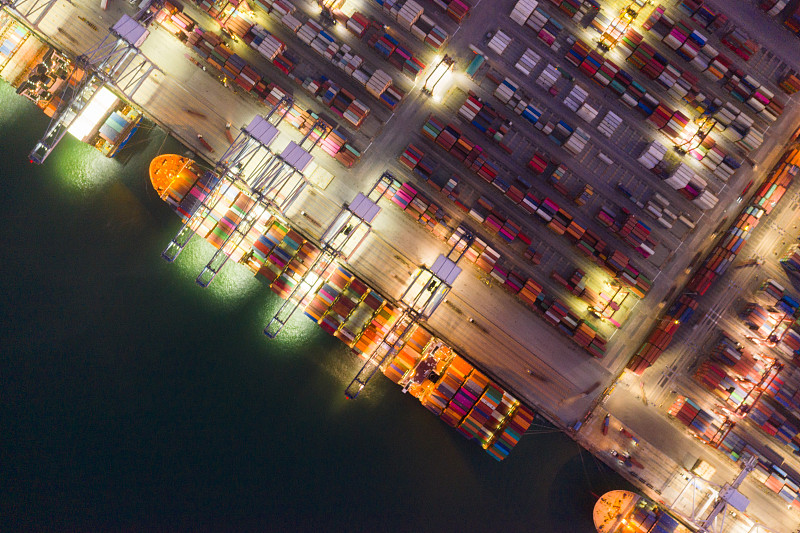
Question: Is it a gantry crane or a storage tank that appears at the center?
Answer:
gantry crane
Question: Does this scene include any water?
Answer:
Yes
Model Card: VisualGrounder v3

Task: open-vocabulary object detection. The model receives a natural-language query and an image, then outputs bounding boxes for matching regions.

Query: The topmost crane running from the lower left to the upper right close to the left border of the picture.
[28,0,173,165]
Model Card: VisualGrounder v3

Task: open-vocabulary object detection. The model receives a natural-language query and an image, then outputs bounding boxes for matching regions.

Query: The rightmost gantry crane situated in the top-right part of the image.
[668,112,718,157]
